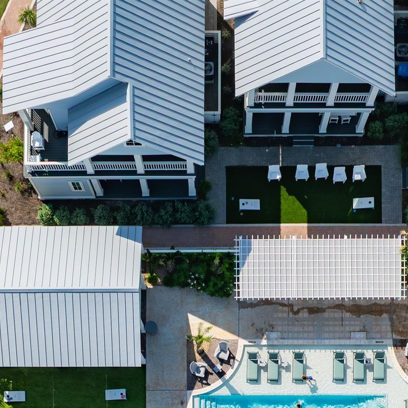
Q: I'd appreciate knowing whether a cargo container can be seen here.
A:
No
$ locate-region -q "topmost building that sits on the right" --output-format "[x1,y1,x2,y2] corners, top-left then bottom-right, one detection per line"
[223,0,396,146]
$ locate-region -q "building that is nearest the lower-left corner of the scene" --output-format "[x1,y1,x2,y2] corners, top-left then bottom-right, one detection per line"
[0,226,145,369]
